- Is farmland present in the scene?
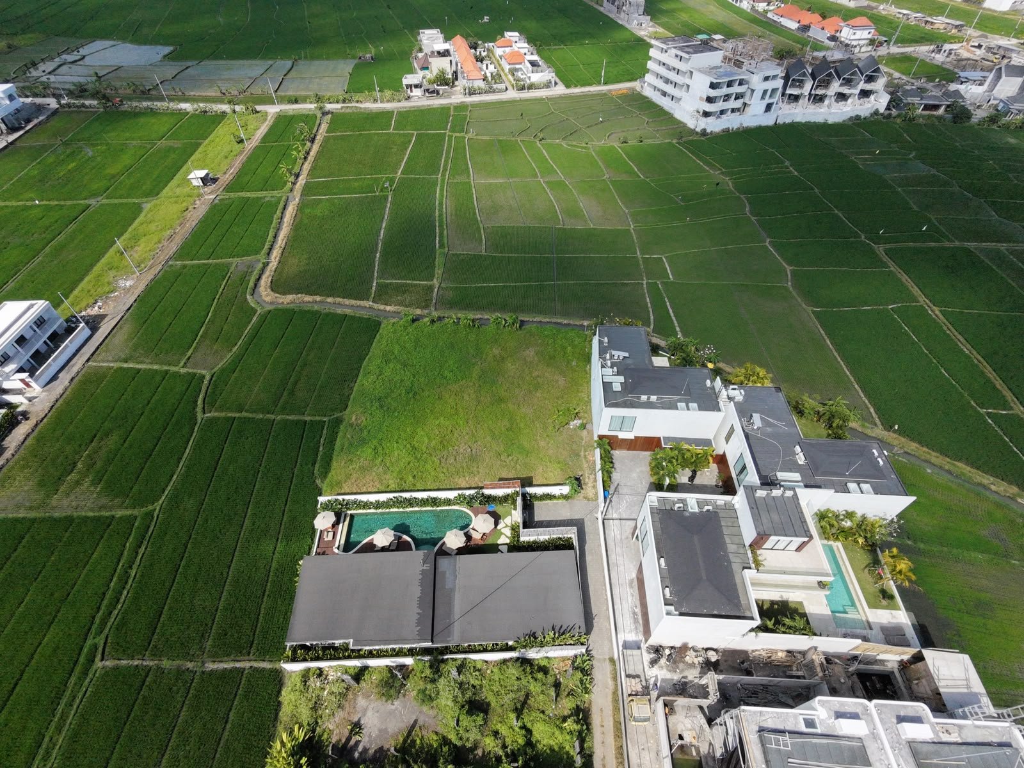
Yes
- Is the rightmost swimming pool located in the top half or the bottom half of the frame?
bottom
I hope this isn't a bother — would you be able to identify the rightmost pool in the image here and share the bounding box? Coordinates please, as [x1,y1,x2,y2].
[821,539,876,631]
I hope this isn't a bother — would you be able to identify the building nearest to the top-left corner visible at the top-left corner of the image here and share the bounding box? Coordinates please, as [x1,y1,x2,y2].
[0,84,33,133]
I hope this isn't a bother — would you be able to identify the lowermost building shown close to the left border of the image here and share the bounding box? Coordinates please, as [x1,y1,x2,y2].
[0,301,72,407]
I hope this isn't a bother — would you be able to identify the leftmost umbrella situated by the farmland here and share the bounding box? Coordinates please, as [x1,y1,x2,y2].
[315,511,337,531]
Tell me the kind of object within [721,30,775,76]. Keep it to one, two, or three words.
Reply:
building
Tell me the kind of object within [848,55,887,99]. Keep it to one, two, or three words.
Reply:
house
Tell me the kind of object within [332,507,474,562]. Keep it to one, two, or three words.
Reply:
swimming pool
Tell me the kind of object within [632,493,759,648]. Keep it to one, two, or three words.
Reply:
house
